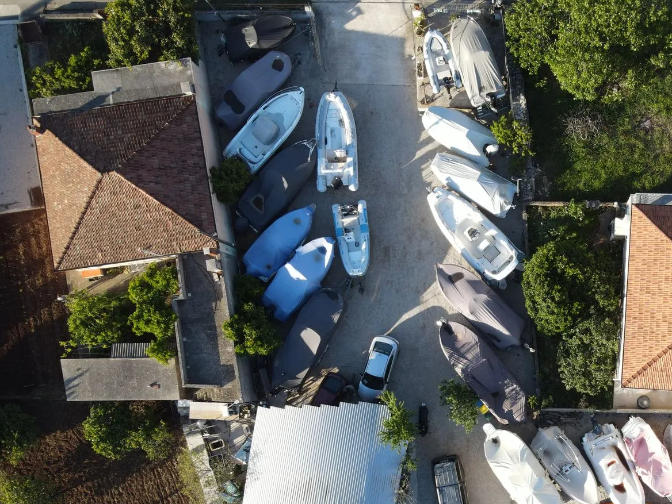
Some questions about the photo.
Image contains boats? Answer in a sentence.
Yes, a boat can be made out from above.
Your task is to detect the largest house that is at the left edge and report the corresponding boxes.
[19,91,236,273]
